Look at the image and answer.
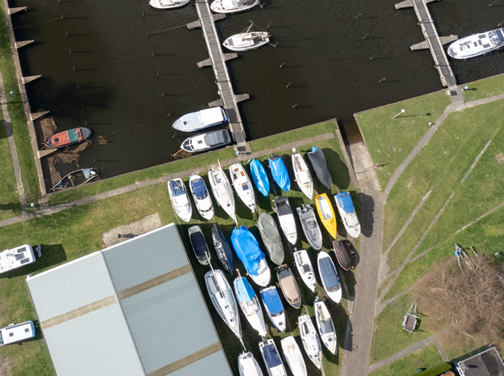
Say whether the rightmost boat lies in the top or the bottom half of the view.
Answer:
top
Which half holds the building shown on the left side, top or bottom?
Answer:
bottom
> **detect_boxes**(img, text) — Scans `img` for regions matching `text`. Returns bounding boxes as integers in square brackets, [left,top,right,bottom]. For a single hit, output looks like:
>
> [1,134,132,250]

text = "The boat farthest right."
[446,27,504,56]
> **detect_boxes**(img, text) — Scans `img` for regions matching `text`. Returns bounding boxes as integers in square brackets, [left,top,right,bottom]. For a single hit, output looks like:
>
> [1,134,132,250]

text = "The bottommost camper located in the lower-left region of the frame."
[0,319,38,347]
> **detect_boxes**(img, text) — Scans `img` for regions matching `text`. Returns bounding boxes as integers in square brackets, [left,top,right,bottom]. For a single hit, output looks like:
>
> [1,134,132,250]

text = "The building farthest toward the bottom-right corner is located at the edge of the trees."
[448,345,504,376]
